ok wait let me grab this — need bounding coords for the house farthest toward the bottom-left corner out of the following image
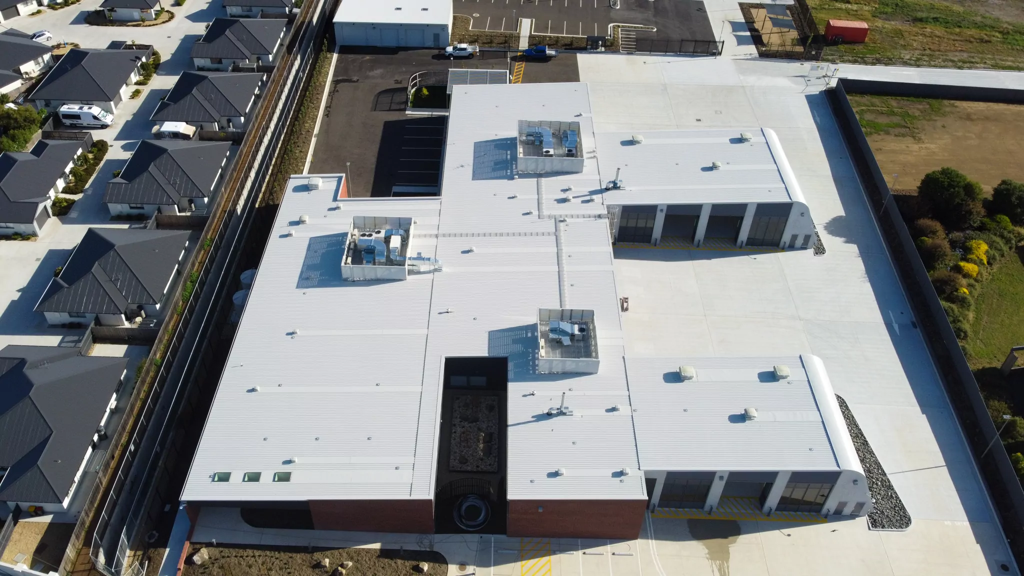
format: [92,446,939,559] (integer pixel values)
[0,344,132,513]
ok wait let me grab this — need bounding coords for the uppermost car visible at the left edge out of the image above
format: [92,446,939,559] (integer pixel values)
[29,28,54,41]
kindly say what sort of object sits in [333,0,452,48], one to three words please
shed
